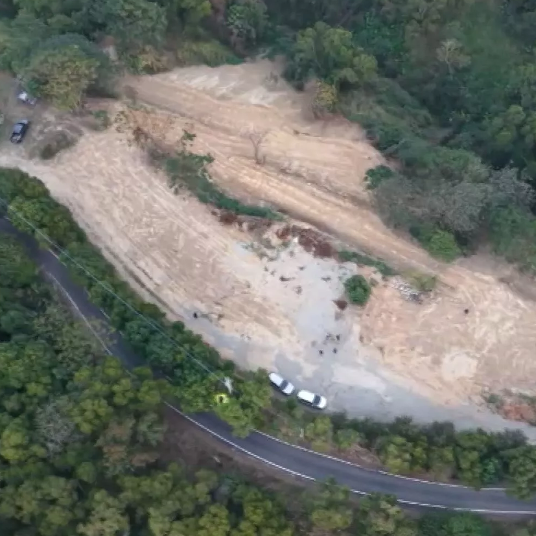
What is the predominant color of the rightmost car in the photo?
white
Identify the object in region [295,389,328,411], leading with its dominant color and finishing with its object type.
white car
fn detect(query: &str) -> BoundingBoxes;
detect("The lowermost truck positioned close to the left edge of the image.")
[7,121,30,145]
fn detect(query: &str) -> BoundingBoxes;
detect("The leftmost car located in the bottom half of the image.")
[266,372,296,399]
